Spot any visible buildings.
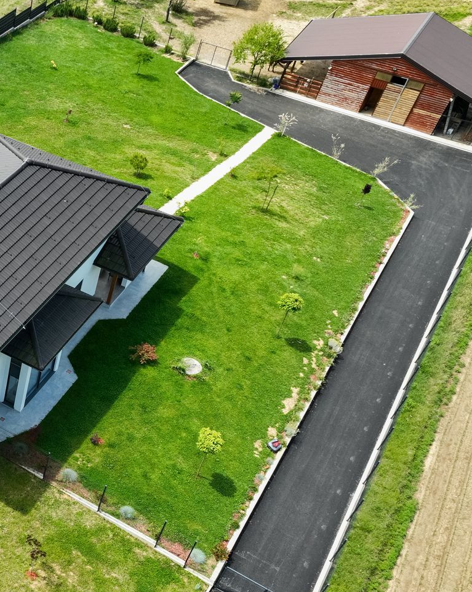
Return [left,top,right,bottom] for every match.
[277,13,472,144]
[0,138,187,412]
